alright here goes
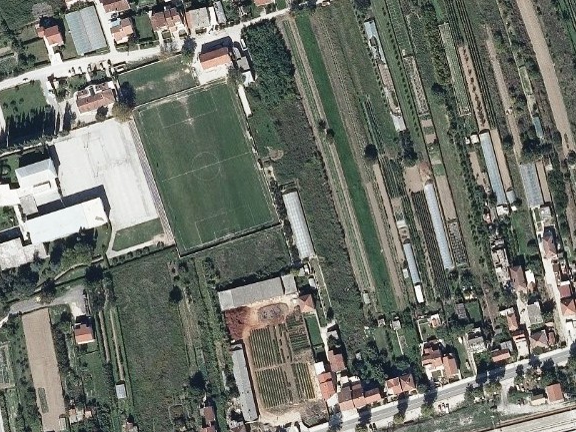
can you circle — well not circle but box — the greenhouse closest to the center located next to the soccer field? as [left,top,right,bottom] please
[283,191,314,259]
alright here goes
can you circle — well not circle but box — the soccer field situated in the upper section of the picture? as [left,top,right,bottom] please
[134,80,280,256]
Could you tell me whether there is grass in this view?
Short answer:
Yes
